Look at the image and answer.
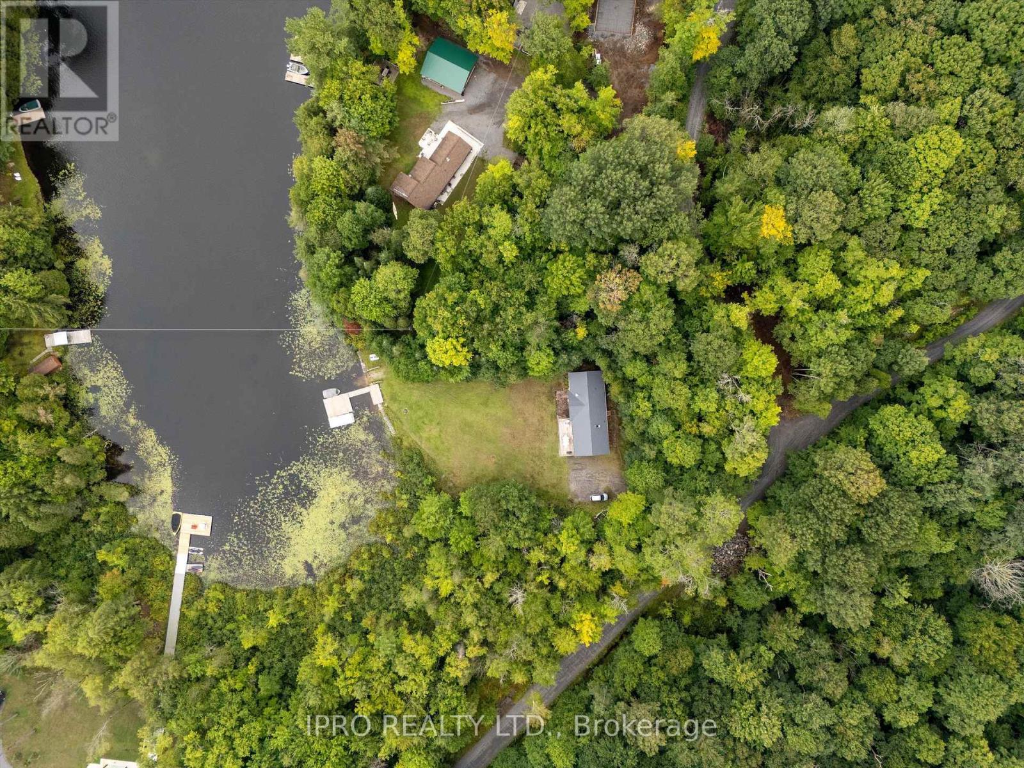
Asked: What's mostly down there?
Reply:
trees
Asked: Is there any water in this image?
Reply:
Yes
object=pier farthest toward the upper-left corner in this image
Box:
[13,108,47,127]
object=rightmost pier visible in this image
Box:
[323,383,383,418]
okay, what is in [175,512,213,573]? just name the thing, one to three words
pier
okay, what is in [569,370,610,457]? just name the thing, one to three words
house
